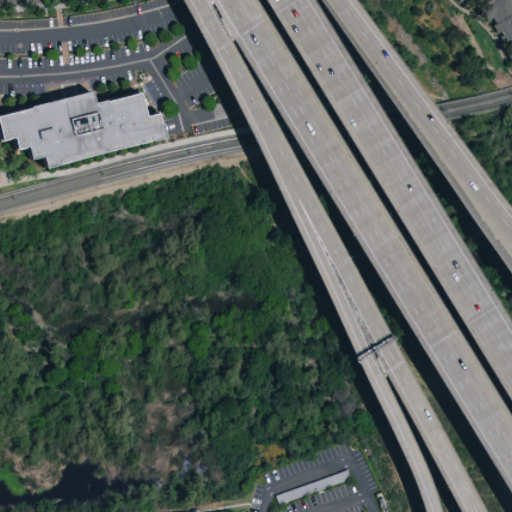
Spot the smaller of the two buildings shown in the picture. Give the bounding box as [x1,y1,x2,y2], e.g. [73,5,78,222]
[276,470,350,504]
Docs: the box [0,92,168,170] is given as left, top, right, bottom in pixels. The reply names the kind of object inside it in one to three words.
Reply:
building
